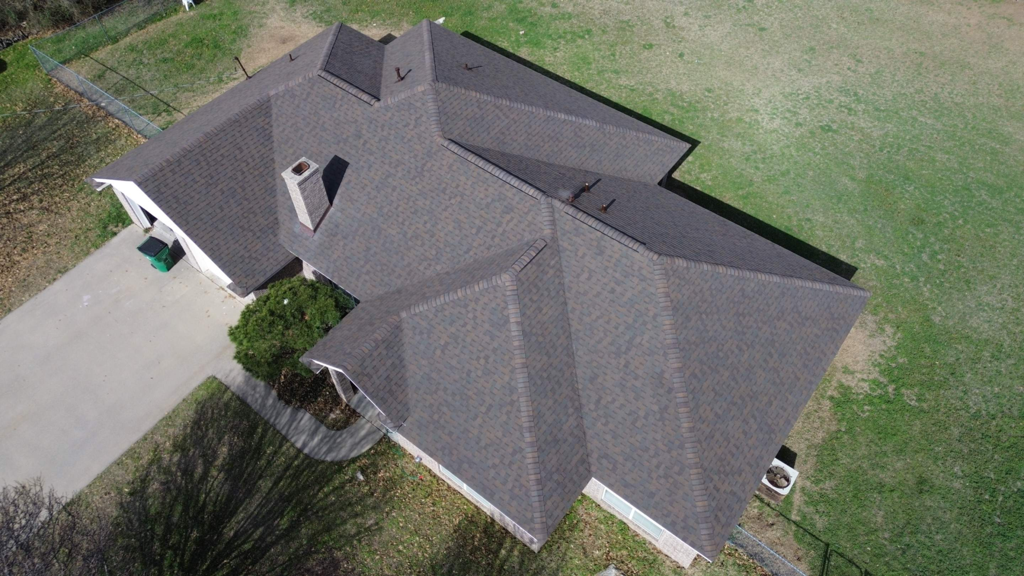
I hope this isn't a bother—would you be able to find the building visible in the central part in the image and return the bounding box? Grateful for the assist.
[84,18,873,569]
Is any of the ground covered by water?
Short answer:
No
